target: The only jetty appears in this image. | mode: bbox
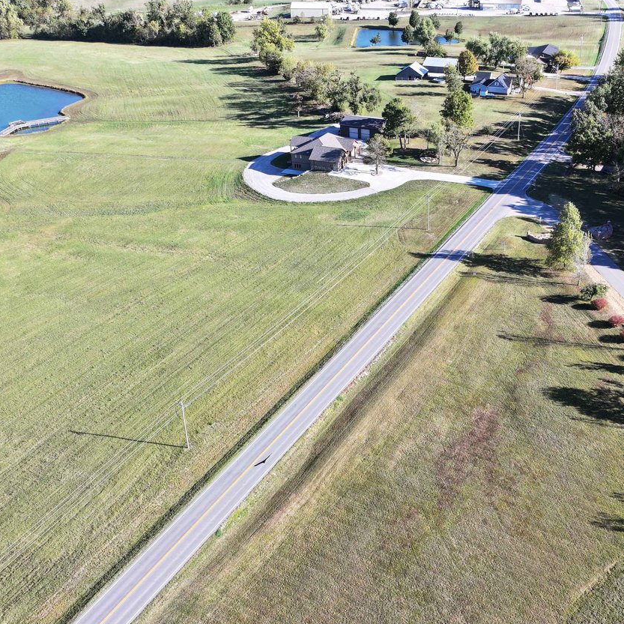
[0,114,71,133]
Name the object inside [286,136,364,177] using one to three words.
house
